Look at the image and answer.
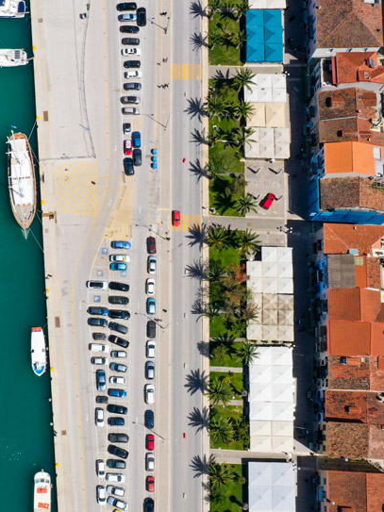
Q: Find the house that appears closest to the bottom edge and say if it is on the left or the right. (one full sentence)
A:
The house that appears closest to the bottom edge appears in the right half of the scene.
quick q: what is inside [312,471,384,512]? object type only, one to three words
house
